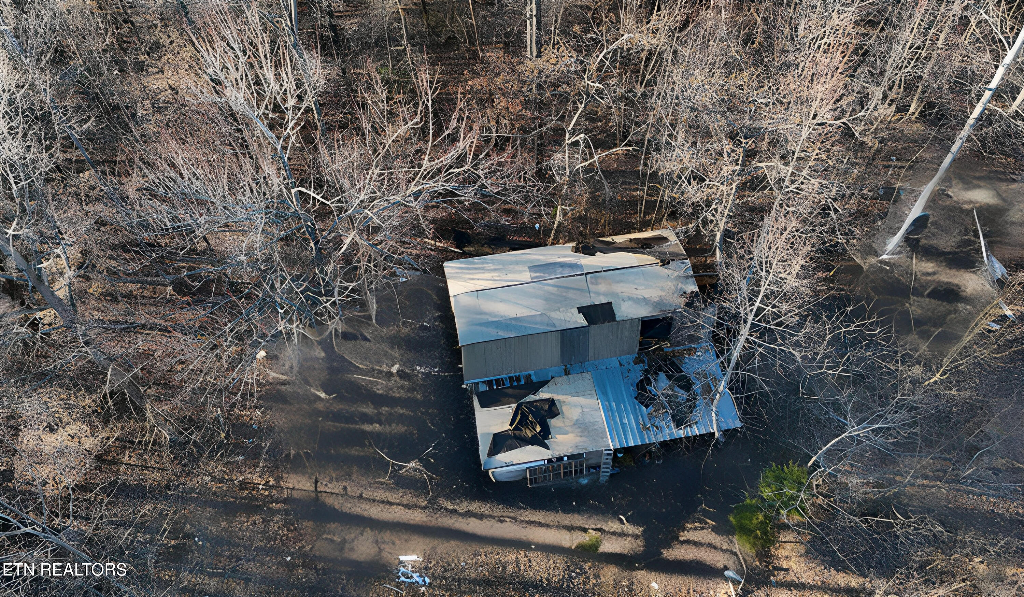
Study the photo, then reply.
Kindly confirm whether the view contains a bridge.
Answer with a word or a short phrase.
No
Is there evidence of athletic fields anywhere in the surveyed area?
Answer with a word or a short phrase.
No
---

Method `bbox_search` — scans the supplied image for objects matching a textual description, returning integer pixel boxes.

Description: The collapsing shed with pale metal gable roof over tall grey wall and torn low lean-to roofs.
[444,228,742,489]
